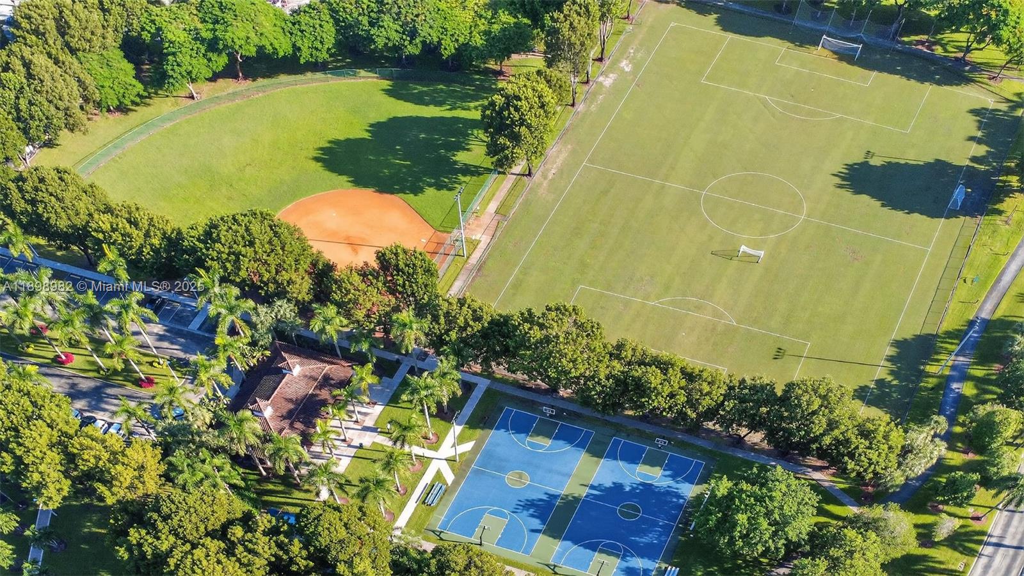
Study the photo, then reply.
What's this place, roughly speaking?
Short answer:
sports ground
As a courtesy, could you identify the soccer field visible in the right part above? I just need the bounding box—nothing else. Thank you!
[461,0,1024,478]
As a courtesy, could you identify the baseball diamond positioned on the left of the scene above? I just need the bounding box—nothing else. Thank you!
[75,76,515,299]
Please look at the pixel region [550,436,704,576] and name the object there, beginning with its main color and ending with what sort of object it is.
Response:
blue basketball court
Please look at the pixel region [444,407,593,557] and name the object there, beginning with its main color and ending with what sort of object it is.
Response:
blue basketball court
